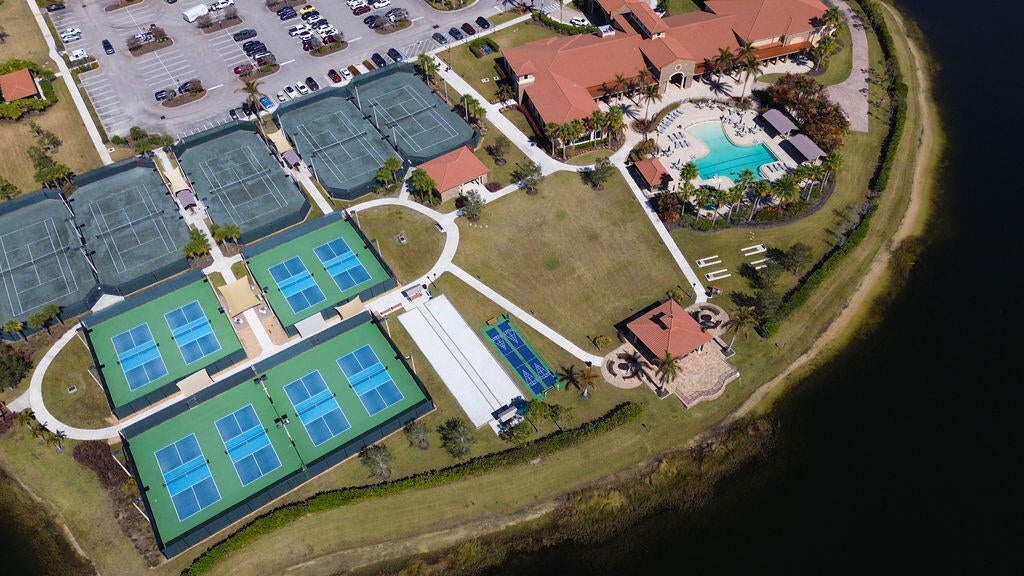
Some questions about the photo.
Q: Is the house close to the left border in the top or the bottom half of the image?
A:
top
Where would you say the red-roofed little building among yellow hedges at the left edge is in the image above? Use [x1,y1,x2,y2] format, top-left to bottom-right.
[0,68,40,109]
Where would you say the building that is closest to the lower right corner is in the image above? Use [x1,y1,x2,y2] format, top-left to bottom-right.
[627,299,712,369]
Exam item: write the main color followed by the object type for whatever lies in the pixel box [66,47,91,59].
white vehicle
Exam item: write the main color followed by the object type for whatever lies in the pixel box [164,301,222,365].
blue sports court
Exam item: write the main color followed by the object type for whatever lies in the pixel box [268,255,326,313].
blue sports court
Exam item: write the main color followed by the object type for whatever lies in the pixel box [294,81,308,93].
white vehicle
